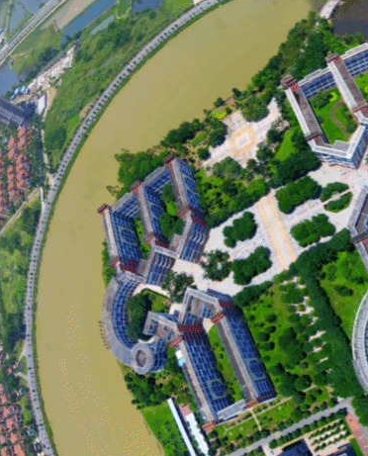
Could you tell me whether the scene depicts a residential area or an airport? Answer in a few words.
residential area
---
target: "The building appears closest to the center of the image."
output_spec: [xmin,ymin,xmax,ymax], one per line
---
[93,151,206,285]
